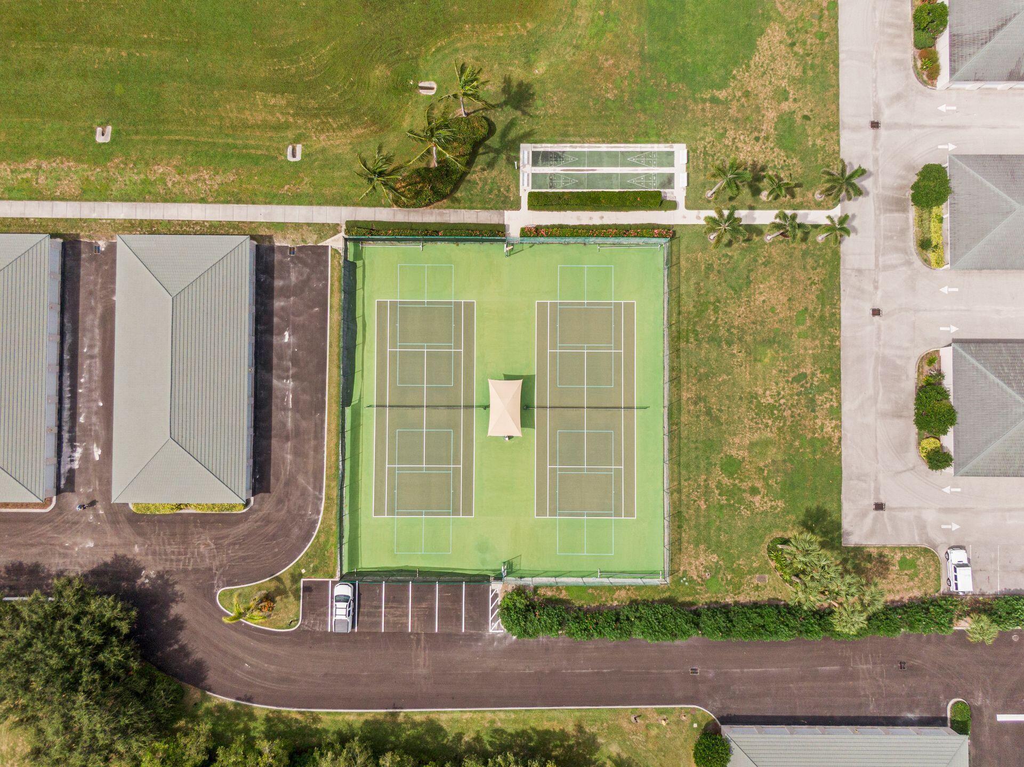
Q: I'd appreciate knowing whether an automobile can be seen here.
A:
Yes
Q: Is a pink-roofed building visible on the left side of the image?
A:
No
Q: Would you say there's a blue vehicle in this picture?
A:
No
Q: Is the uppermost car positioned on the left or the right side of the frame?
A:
right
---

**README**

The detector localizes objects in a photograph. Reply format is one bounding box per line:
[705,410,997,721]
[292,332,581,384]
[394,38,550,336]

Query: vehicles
[333,580,356,633]
[946,548,974,595]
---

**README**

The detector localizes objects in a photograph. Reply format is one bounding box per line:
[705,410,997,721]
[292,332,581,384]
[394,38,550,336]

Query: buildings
[938,154,1024,271]
[110,234,256,504]
[936,0,1024,89]
[939,342,1024,477]
[0,233,64,503]
[722,726,969,767]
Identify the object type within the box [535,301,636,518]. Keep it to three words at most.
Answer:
tennis court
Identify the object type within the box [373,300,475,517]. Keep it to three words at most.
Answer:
tennis court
